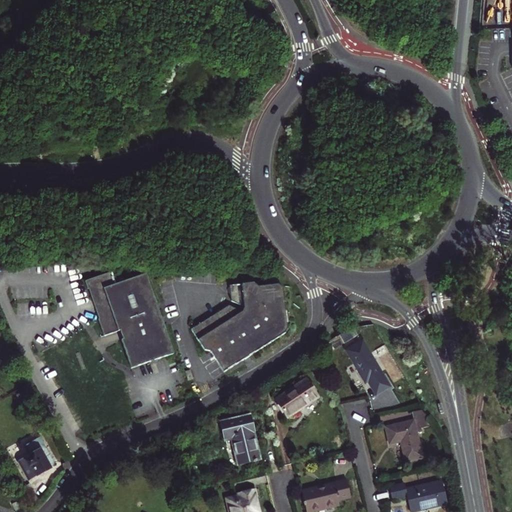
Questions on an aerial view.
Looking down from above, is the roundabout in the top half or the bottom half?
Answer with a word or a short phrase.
top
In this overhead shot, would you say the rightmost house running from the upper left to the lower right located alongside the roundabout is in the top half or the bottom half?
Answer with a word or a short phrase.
bottom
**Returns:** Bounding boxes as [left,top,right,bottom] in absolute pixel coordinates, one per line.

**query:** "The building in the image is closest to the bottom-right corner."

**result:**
[390,479,448,512]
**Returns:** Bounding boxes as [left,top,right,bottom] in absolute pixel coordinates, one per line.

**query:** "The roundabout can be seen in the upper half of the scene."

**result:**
[248,54,484,292]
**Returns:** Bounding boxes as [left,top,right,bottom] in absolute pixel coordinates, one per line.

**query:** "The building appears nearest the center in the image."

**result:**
[192,282,287,374]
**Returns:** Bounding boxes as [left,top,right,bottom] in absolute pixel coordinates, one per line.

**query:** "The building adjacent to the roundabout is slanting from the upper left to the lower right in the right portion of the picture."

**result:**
[342,332,400,410]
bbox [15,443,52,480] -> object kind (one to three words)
house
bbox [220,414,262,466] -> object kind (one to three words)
house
